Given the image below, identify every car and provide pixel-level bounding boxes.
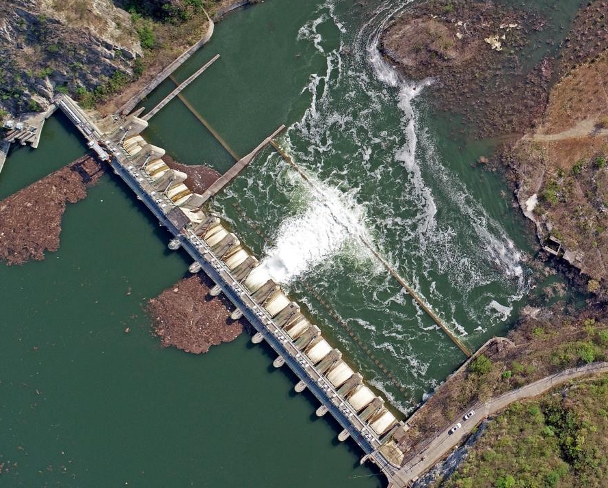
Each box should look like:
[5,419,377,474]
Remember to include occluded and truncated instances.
[451,422,463,433]
[463,411,475,420]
